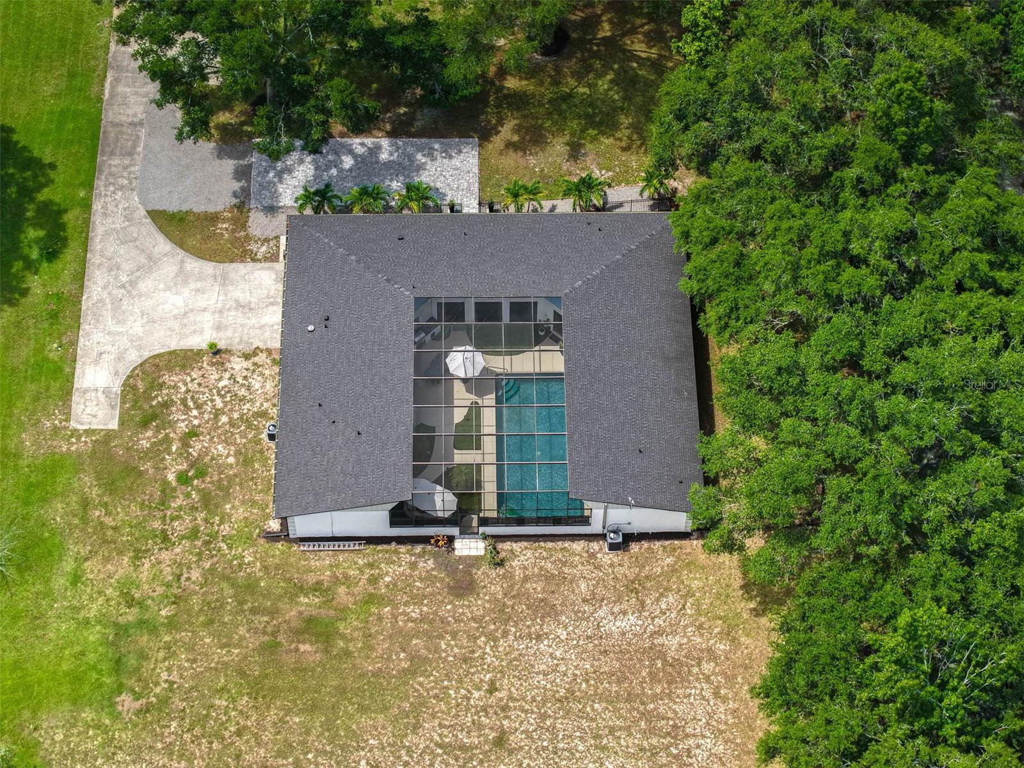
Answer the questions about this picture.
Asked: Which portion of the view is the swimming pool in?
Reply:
center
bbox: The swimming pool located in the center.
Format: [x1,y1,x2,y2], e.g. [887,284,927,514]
[496,373,584,516]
